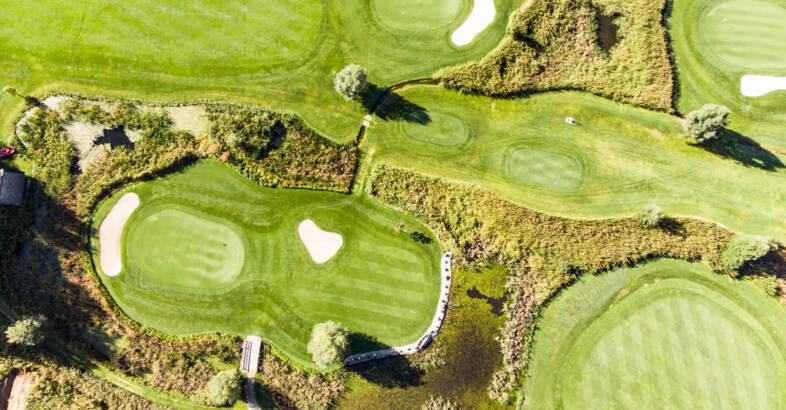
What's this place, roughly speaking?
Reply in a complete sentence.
This looks like a golf course.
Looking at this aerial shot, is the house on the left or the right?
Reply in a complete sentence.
The house sits on the left side.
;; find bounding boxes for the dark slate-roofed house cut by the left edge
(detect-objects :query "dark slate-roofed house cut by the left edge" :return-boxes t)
[0,170,35,206]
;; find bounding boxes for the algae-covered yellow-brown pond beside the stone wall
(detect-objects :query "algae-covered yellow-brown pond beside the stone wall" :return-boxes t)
[339,256,511,410]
